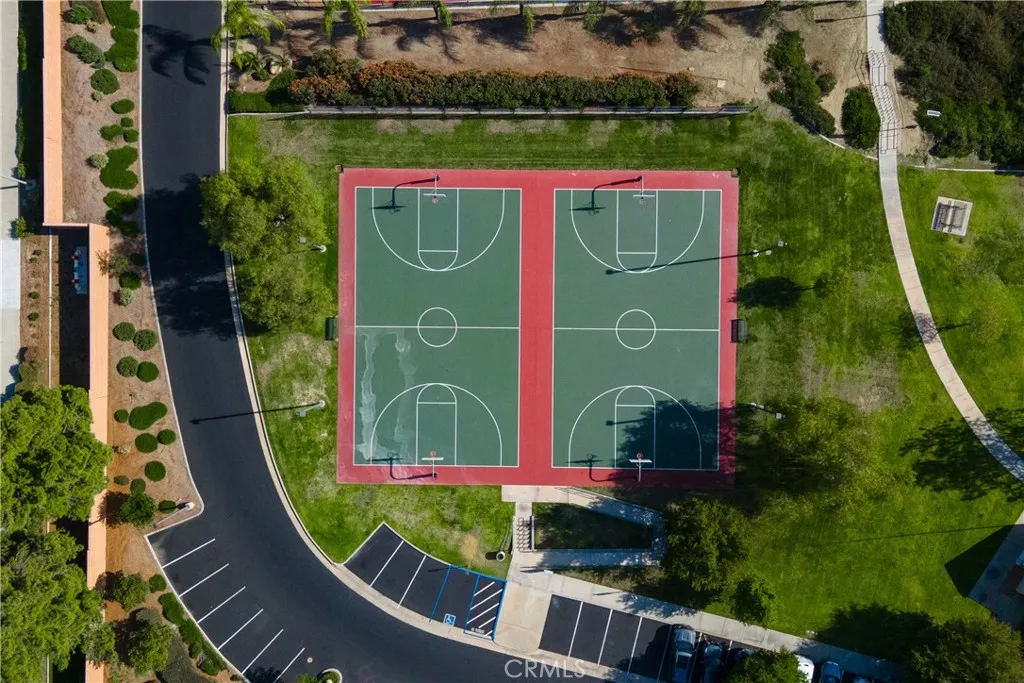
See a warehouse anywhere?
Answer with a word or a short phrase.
No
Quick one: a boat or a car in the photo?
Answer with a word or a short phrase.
car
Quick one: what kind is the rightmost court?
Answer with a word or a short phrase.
basketball court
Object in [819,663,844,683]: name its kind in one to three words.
car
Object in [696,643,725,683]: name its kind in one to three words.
car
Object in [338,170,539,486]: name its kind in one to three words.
basketball court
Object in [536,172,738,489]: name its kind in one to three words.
basketball court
